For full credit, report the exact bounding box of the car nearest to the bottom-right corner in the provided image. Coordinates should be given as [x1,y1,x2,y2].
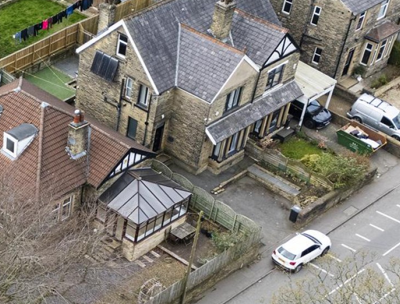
[269,229,333,274]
